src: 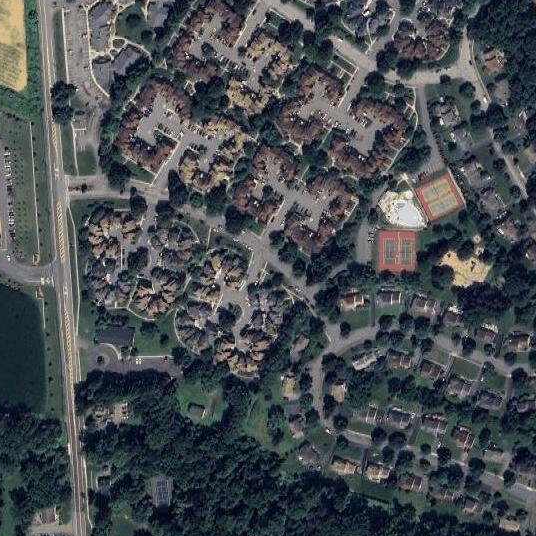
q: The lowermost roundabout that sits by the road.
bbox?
[213,294,249,335]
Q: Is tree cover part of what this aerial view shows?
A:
Yes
